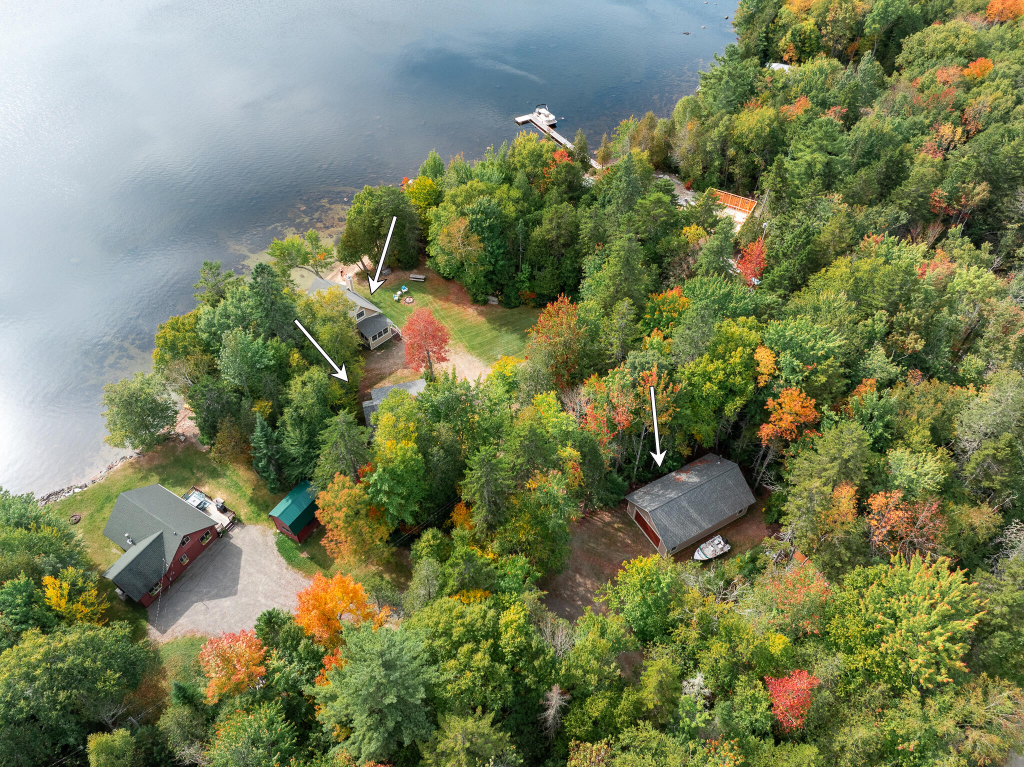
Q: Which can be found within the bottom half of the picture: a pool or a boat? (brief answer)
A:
boat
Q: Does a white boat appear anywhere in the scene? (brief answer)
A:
Yes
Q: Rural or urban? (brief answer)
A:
rural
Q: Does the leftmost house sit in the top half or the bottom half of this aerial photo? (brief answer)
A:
bottom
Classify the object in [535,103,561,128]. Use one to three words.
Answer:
boat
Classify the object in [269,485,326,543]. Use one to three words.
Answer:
shed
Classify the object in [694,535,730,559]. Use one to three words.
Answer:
boat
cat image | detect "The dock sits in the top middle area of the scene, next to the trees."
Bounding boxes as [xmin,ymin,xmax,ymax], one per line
[515,114,577,153]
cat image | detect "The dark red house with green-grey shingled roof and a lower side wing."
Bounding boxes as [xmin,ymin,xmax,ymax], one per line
[100,482,236,606]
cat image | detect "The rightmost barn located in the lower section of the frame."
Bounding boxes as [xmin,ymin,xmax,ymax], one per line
[627,451,755,559]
